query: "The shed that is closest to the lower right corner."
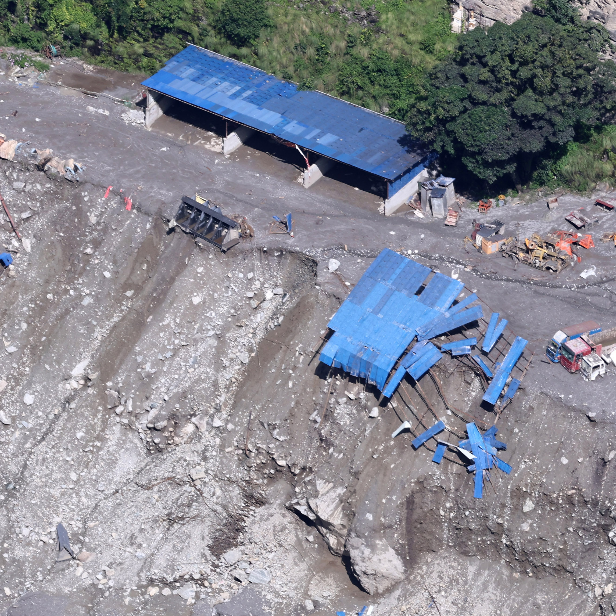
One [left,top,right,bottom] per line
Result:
[321,246,468,394]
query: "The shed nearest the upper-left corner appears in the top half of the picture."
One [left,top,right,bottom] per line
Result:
[139,45,432,217]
